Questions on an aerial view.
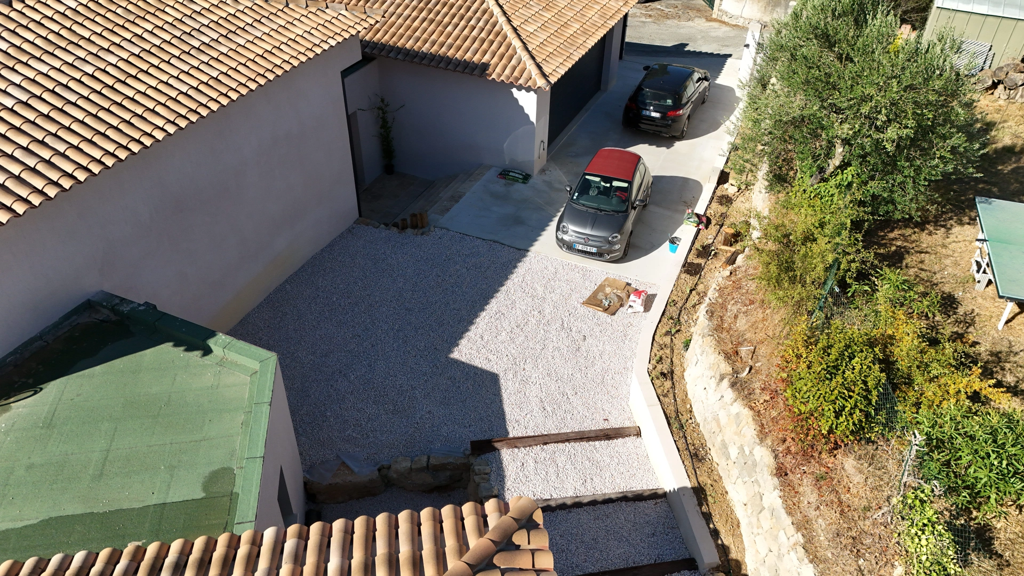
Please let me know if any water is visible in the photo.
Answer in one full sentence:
No, there is no water in the image.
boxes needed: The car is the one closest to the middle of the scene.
[554,147,657,263]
